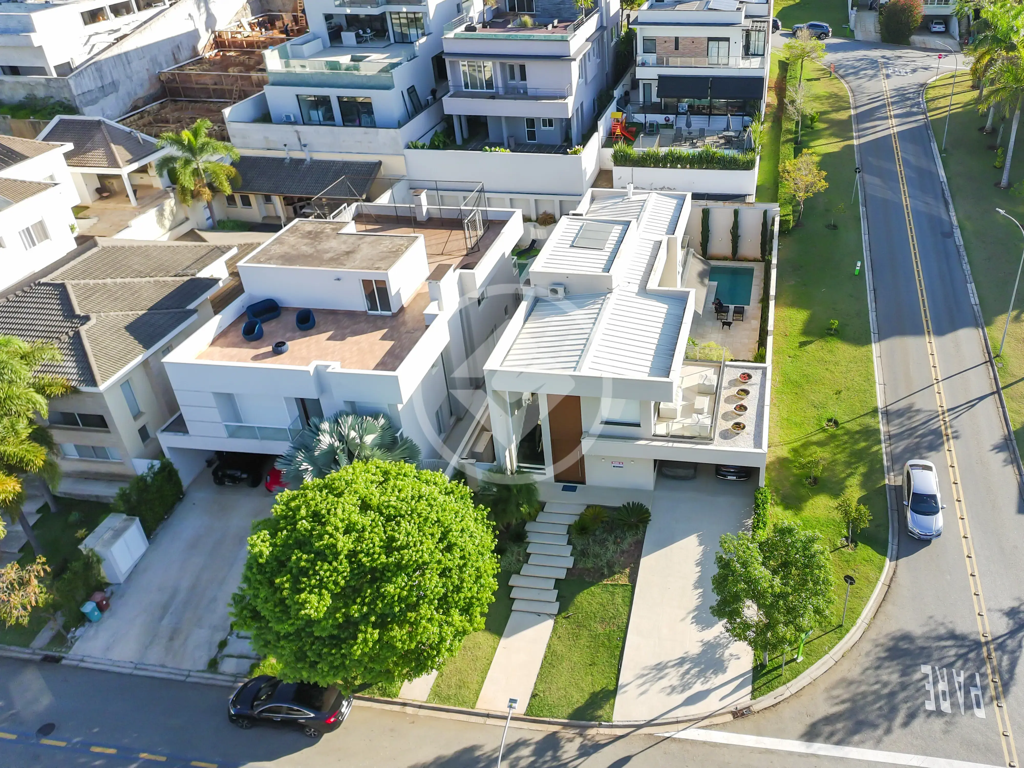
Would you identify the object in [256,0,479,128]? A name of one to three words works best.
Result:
building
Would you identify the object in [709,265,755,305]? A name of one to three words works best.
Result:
swimming pool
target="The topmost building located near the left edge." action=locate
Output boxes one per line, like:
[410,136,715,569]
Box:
[0,0,184,80]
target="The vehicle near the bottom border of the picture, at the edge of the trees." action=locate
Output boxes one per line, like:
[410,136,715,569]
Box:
[224,675,345,742]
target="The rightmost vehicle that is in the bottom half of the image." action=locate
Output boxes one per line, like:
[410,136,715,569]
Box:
[899,468,954,539]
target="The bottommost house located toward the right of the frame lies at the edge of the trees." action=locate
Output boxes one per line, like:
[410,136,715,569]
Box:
[476,182,771,509]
